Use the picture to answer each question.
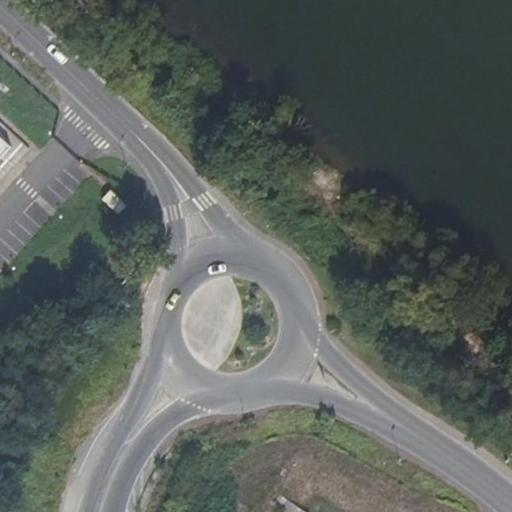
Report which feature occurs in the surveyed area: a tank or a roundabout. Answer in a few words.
roundabout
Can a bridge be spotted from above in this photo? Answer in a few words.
No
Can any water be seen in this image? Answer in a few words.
Yes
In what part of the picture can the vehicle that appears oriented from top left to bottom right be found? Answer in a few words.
top left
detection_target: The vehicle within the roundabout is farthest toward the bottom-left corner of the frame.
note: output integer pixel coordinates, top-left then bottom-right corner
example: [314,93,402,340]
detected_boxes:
[166,292,180,309]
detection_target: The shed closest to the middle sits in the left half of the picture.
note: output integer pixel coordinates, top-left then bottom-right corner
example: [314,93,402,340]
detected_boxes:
[101,190,126,215]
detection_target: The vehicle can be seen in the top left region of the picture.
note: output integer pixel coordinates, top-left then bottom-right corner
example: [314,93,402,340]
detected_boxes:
[47,44,68,64]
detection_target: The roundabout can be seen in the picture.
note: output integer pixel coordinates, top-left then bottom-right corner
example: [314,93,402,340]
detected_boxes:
[148,230,322,414]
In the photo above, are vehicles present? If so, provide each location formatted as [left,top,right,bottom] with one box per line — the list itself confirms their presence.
[208,264,226,274]
[166,292,180,309]
[47,44,68,64]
